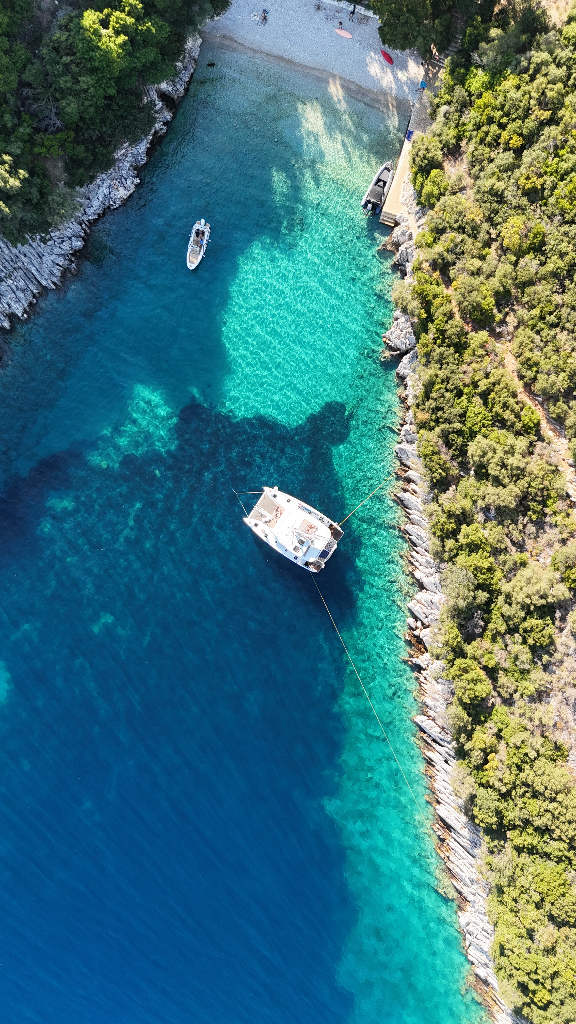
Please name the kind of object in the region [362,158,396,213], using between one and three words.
boat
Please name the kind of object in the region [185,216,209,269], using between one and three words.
boat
